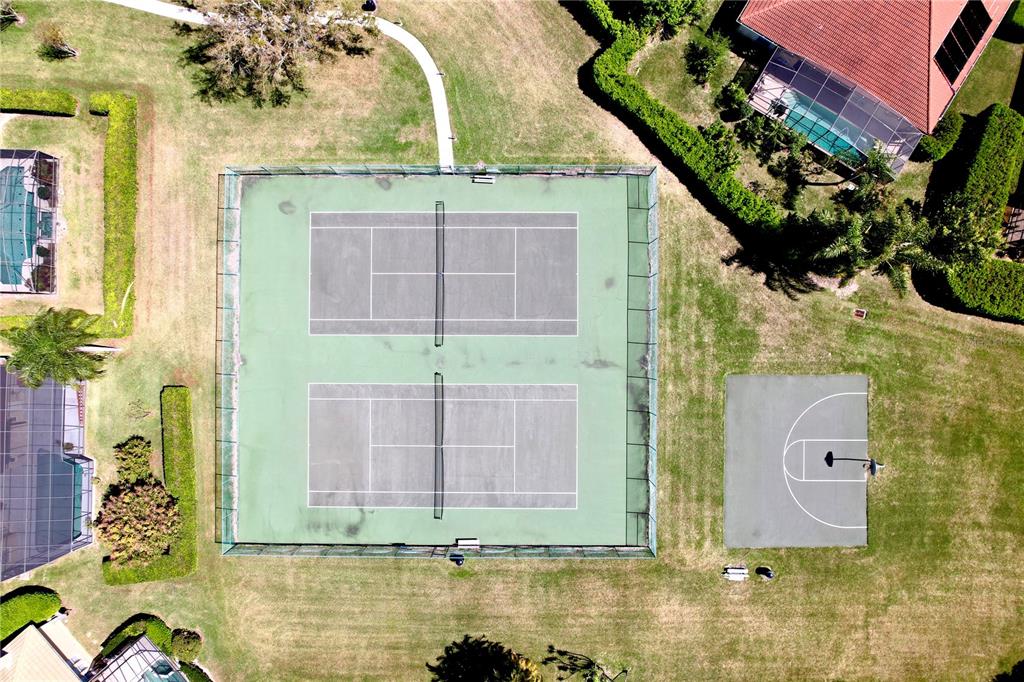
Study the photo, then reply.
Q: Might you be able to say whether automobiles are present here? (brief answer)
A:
No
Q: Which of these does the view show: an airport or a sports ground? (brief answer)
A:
sports ground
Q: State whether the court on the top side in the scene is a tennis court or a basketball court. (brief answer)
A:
tennis court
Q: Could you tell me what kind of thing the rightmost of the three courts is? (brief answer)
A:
basketball court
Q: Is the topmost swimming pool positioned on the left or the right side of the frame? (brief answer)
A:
right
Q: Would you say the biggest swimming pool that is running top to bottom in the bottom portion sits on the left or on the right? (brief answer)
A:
left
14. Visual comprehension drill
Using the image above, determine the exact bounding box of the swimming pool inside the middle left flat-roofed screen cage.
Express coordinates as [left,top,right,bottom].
[63,448,83,545]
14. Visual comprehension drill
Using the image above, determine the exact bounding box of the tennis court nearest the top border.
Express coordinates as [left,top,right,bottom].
[233,174,651,362]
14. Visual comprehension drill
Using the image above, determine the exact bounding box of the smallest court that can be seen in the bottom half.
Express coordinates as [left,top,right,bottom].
[724,375,869,548]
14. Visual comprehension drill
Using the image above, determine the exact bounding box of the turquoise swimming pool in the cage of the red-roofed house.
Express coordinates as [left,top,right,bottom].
[781,89,877,165]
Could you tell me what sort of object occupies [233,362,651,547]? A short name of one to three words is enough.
tennis court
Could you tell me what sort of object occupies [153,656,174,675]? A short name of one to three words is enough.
swimming pool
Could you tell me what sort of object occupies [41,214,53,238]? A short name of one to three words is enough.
swimming pool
